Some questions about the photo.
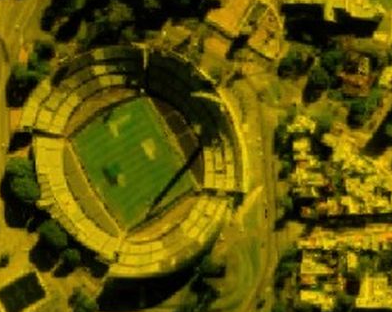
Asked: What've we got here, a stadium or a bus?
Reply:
stadium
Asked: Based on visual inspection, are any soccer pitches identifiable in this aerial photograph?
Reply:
Yes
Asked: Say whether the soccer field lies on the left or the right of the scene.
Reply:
left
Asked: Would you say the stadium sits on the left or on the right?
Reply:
left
